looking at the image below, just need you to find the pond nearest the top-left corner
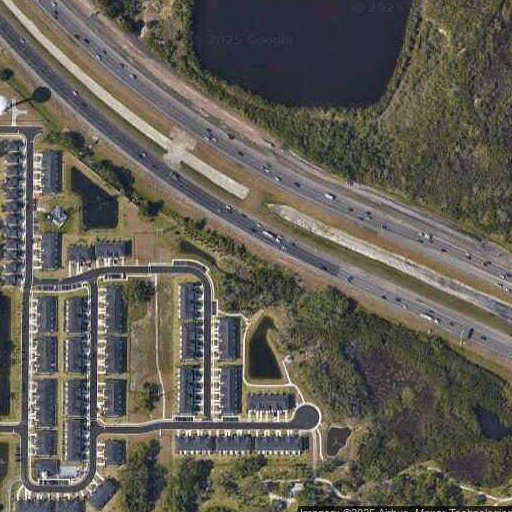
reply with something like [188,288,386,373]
[70,166,117,229]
